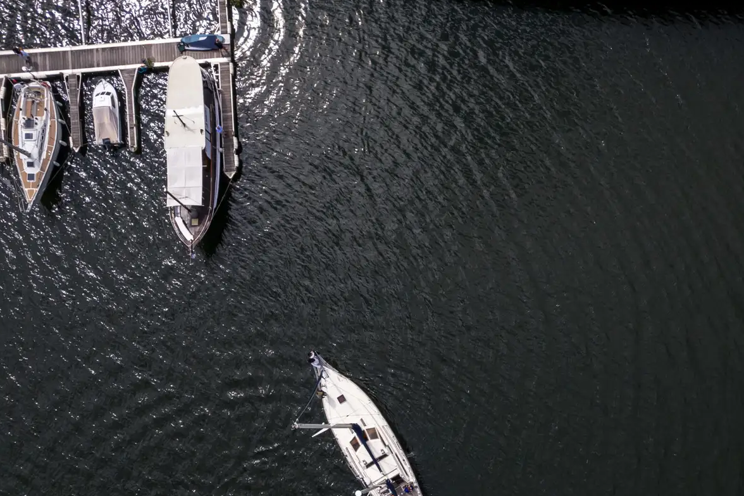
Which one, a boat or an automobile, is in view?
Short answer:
boat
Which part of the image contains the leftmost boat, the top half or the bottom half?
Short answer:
top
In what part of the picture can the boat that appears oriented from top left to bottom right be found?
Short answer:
bottom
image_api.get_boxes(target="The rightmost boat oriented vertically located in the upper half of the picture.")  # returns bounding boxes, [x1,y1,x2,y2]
[164,57,222,256]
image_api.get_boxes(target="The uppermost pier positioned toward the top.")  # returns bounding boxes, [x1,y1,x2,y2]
[215,0,233,36]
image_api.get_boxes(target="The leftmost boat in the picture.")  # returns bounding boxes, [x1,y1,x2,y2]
[0,66,63,211]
